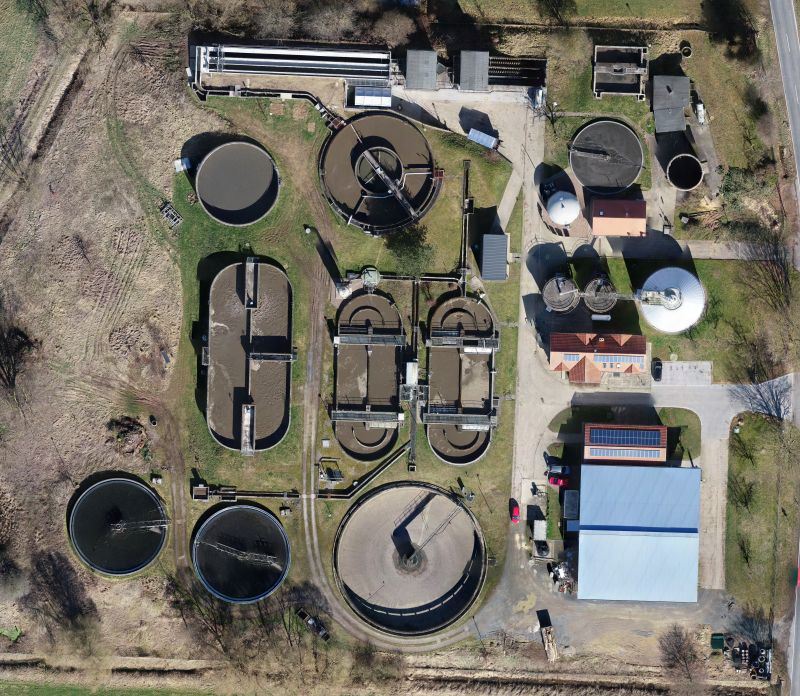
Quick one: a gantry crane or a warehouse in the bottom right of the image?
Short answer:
warehouse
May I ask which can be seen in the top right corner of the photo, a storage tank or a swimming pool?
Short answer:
storage tank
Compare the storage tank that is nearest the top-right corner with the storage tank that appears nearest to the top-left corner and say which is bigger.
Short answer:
the storage tank that appears nearest to the top-left corner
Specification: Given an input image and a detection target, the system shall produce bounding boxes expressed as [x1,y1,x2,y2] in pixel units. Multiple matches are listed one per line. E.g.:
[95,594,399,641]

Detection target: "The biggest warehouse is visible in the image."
[566,464,702,602]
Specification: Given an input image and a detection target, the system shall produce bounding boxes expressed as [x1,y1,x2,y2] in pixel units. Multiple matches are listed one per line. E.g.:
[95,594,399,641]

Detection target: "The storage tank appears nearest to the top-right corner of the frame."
[667,154,709,191]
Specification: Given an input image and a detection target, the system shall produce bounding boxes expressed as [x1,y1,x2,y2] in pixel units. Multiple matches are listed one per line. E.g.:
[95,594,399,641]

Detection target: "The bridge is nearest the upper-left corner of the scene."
[245,257,258,309]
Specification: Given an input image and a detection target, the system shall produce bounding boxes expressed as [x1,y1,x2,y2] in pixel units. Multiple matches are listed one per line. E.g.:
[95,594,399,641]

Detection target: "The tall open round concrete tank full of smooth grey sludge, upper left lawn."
[195,141,280,226]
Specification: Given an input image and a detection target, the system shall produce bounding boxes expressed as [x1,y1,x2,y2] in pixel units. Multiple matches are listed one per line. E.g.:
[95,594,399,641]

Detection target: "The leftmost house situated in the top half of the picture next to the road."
[406,50,436,89]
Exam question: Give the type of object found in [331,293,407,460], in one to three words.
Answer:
storage tank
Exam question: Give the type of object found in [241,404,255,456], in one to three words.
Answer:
bridge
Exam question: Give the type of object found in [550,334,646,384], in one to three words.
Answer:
house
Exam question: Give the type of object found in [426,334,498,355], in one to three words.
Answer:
bridge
